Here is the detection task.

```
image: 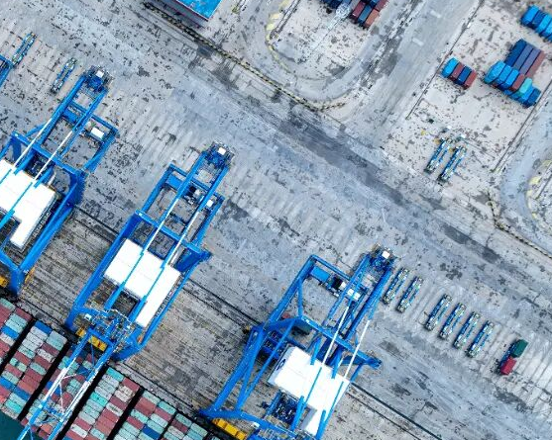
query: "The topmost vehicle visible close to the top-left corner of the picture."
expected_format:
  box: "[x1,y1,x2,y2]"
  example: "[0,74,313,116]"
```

[10,29,37,66]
